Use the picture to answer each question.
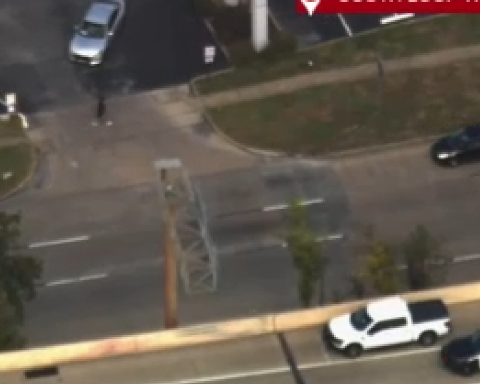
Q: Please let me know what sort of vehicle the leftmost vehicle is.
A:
car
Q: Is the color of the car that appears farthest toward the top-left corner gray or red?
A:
gray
